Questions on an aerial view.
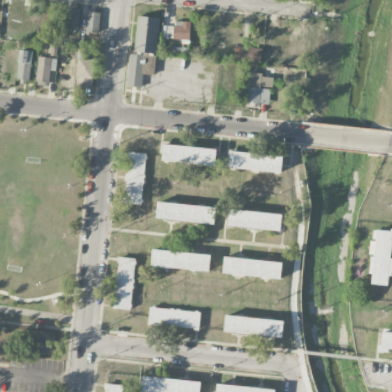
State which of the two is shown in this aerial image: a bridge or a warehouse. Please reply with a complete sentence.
The one in the frame is a bridge.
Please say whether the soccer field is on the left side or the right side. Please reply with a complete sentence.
You can find the soccer field on the left side of the picture.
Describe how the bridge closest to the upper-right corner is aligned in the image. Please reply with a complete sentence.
The bridge closest to the upper-right corner is laid out from side to side.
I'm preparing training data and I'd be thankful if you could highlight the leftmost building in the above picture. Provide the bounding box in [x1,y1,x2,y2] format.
[17,50,32,84]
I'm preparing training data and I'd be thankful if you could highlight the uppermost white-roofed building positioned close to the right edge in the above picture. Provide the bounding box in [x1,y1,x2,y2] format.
[368,230,392,286]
